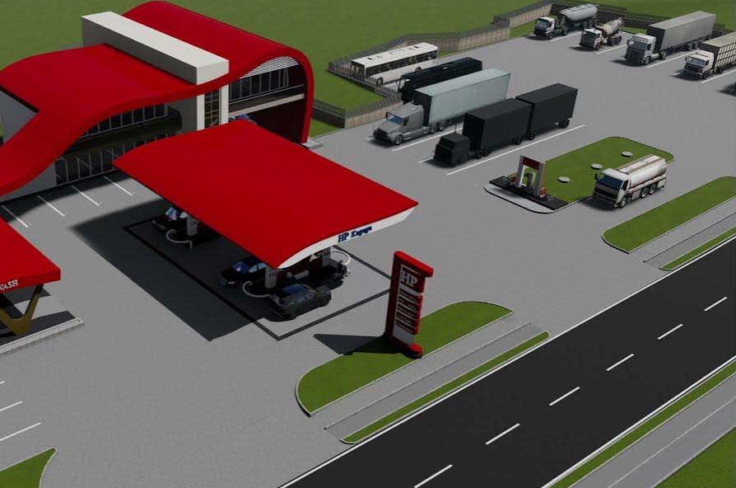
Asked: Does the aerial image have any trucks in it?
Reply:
Yes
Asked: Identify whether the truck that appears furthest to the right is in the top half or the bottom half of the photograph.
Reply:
top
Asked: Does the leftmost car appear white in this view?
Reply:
No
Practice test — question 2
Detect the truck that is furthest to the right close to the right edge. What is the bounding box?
[682,27,736,77]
